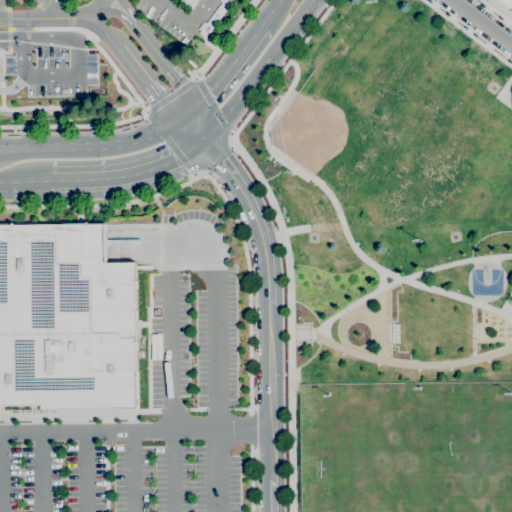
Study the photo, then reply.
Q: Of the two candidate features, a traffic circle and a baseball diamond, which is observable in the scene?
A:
baseball diamond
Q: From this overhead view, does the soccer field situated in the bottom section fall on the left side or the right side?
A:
right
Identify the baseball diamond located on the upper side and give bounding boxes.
[271,91,349,174]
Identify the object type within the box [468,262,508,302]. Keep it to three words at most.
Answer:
basketball court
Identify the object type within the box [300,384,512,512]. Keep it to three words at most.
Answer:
soccer field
